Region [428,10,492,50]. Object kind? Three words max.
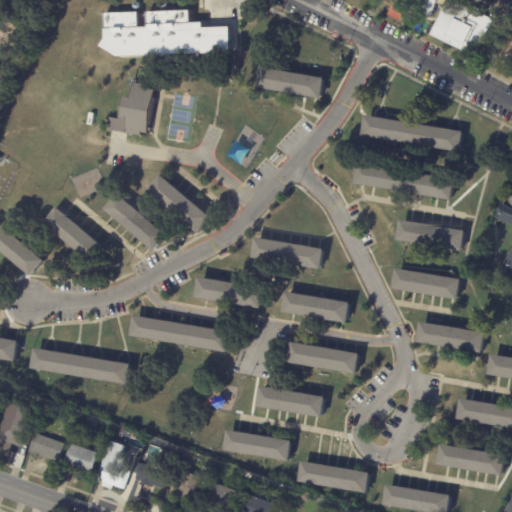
building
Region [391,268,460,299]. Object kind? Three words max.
building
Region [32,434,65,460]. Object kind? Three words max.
house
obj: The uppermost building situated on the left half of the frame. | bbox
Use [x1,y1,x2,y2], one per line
[100,10,230,58]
